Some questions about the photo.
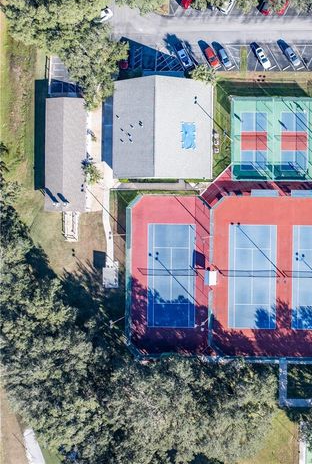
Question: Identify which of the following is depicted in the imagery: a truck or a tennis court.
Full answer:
The one in the frame is a tennis court.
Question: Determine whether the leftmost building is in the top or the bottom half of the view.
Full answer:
The leftmost building sits in the top half of the picture.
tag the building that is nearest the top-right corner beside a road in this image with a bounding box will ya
[111,76,214,179]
